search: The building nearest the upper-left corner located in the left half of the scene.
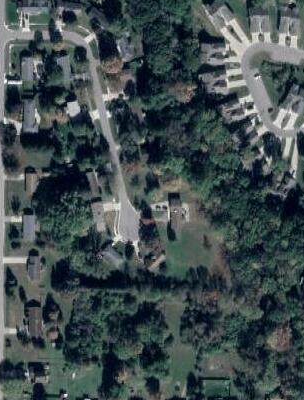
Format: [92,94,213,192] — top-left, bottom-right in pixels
[19,0,49,16]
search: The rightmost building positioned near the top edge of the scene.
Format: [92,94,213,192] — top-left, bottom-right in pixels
[280,7,300,37]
